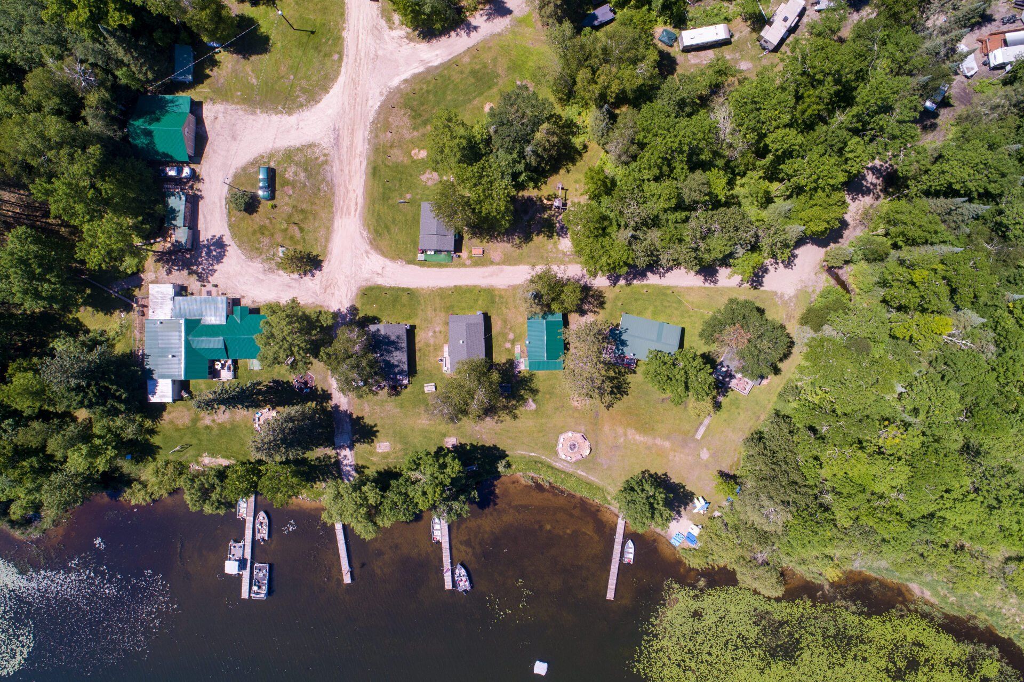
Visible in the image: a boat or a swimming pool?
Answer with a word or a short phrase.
boat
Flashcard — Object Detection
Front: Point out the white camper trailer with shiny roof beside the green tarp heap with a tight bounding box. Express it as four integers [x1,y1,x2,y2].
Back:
[673,24,730,55]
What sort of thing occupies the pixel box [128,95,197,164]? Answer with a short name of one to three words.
building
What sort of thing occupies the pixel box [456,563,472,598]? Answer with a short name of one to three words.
boat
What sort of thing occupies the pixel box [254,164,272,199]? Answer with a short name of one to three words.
car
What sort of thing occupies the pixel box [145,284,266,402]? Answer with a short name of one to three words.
building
